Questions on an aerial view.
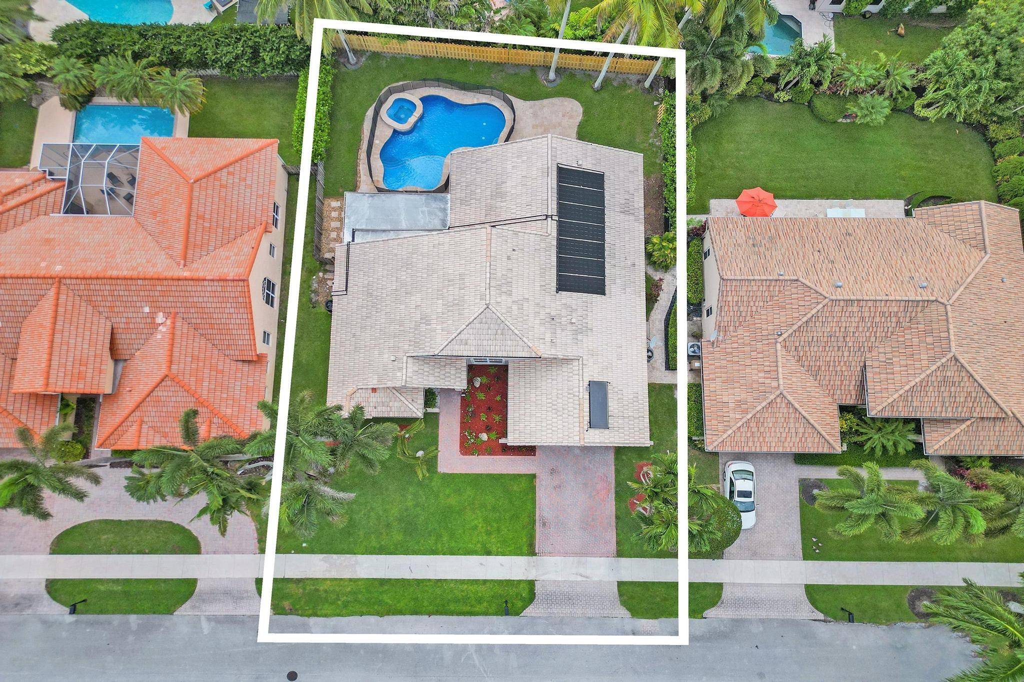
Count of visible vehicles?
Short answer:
one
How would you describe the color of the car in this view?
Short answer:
white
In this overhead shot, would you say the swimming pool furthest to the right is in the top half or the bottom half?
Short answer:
top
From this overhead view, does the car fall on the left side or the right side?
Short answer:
right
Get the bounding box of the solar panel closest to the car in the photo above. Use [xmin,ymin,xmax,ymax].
[586,381,613,432]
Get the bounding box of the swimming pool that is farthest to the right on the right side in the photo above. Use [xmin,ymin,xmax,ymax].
[749,9,803,56]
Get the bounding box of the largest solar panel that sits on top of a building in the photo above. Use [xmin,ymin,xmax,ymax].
[557,164,607,296]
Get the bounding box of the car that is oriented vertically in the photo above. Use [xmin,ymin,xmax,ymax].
[728,461,764,531]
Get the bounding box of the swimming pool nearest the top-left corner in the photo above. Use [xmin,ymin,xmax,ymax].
[70,0,172,24]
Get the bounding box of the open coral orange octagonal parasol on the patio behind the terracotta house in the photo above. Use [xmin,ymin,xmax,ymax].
[734,185,774,216]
